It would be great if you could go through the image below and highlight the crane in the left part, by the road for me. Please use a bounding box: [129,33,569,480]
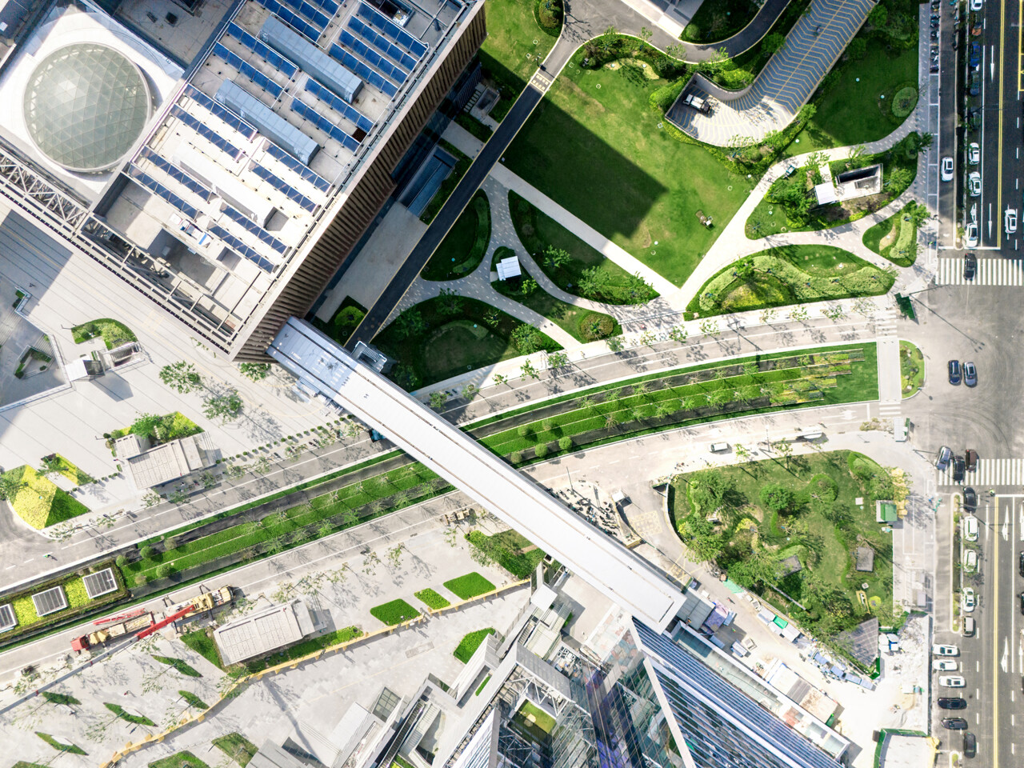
[0,576,234,717]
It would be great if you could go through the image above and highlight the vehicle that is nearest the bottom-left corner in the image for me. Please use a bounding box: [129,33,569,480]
[56,611,147,654]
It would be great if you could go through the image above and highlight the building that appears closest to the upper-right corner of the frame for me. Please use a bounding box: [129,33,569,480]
[811,162,882,208]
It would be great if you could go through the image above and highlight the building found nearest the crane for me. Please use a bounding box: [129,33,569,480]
[213,599,326,666]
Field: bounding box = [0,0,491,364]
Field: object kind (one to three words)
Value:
building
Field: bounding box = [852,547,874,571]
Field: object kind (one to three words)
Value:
shed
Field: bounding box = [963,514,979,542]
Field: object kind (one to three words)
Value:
car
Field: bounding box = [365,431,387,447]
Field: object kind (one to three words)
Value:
vehicle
